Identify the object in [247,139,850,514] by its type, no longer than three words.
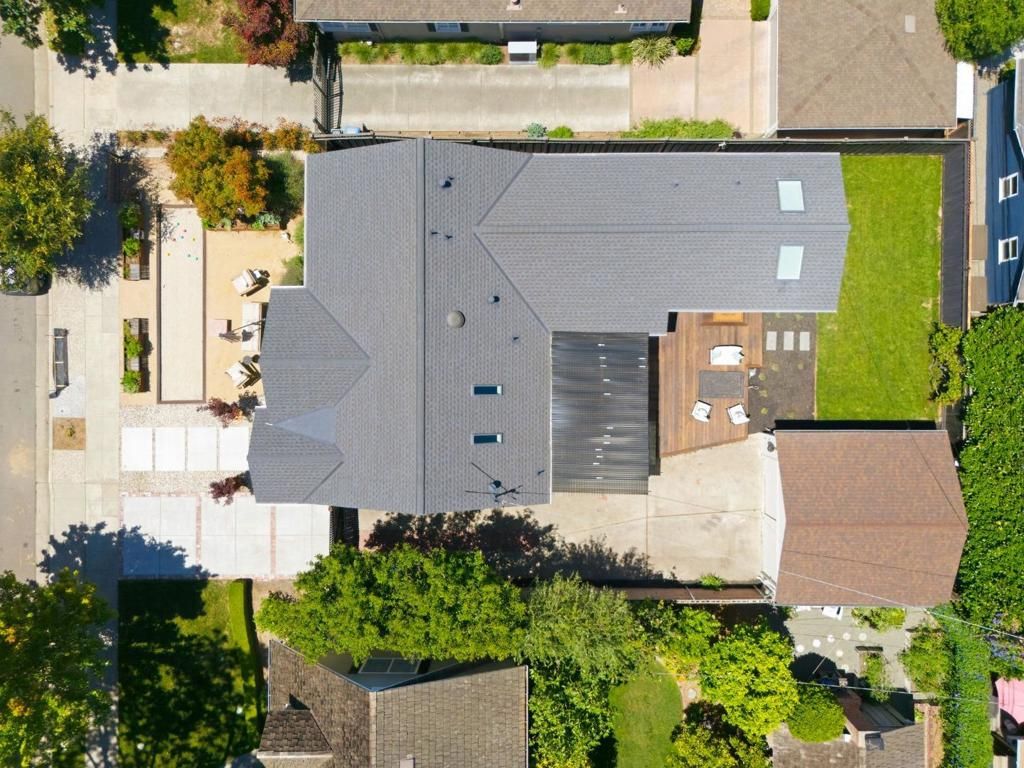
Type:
house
